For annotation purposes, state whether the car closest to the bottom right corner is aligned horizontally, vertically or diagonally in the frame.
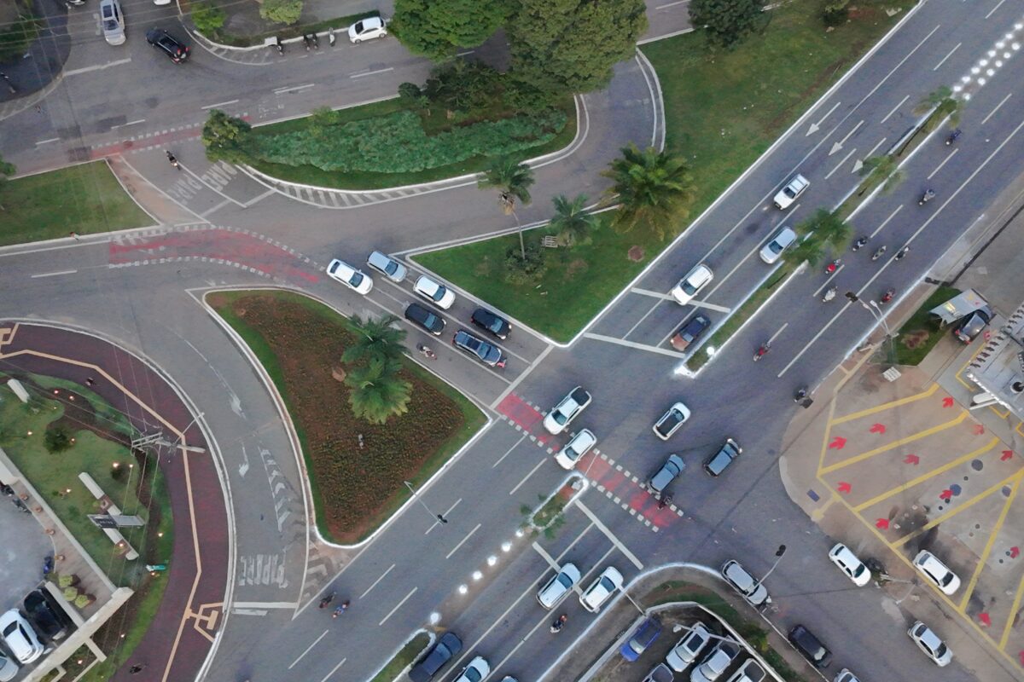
diagonally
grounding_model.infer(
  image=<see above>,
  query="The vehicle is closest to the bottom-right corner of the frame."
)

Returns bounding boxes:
[902,617,954,670]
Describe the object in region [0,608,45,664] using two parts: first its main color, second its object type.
white car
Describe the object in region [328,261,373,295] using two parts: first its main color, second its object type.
white car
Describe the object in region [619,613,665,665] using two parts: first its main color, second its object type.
blue truck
